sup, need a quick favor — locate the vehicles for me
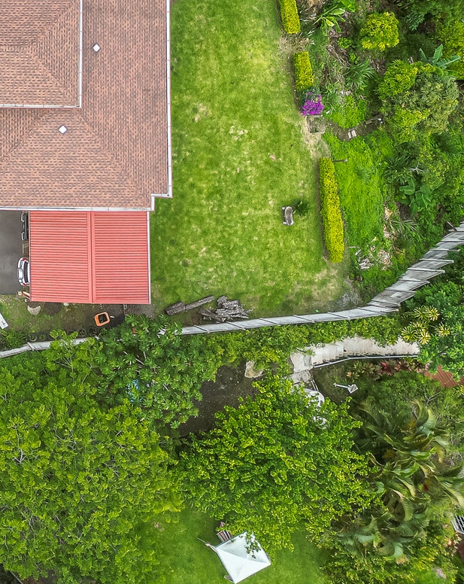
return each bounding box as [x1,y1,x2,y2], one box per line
[16,254,29,287]
[19,212,28,241]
